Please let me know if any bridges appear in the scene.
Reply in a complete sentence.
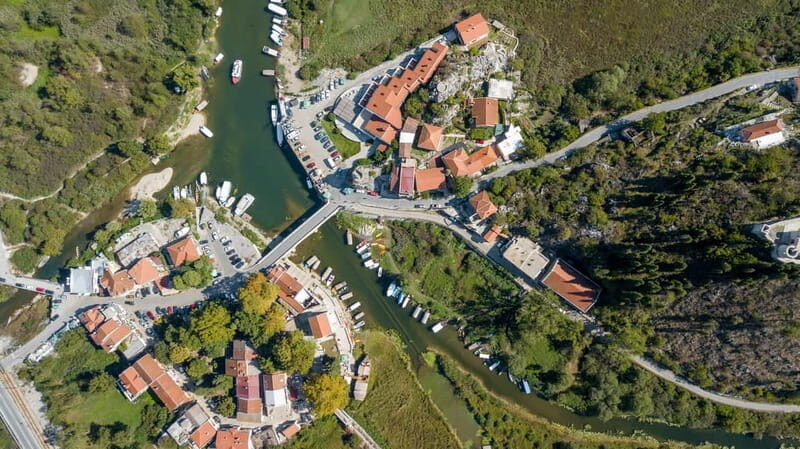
Yes, the image includes a bridge.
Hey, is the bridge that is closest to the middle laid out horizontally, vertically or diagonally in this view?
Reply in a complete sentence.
In this picture, the bridge that is closest to the middle is oriented diagonally.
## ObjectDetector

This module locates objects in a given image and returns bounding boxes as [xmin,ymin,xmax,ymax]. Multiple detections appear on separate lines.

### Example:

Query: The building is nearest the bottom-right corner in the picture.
[758,216,800,262]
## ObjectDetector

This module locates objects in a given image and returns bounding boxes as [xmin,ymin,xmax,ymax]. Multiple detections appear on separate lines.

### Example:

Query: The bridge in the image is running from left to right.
[9,275,64,299]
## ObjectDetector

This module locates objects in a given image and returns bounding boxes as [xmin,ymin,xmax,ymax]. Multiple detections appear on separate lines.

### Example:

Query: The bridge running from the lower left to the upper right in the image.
[257,200,337,269]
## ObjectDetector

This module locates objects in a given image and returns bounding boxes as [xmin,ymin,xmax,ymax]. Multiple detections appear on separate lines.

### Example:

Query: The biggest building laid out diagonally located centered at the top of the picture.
[359,41,448,130]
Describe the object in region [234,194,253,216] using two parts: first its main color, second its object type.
white boat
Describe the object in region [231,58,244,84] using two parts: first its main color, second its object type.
white boat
